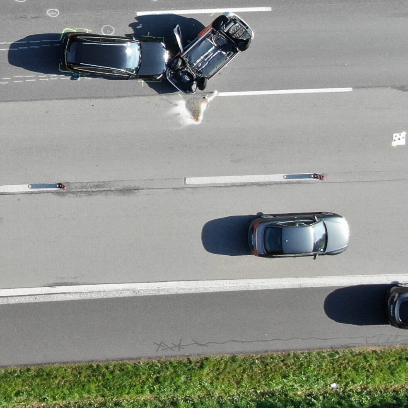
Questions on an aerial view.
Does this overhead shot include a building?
No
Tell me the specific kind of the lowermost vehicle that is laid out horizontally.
automobile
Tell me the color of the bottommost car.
black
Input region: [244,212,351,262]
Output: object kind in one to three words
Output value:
car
